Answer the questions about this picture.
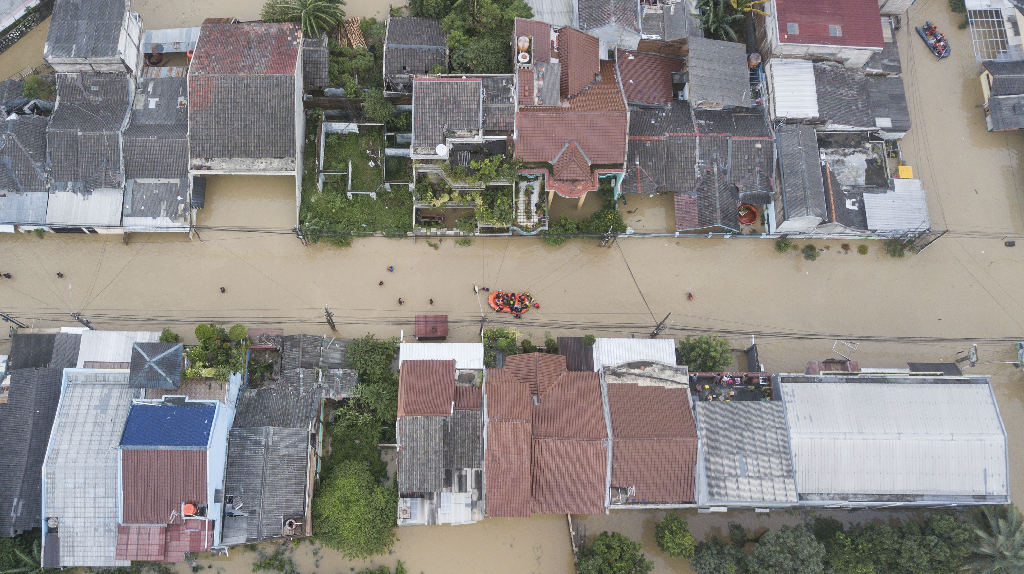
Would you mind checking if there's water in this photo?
Yes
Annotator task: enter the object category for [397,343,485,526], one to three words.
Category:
house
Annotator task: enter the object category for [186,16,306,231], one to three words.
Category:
house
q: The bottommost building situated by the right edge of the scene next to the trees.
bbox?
[770,371,1011,510]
